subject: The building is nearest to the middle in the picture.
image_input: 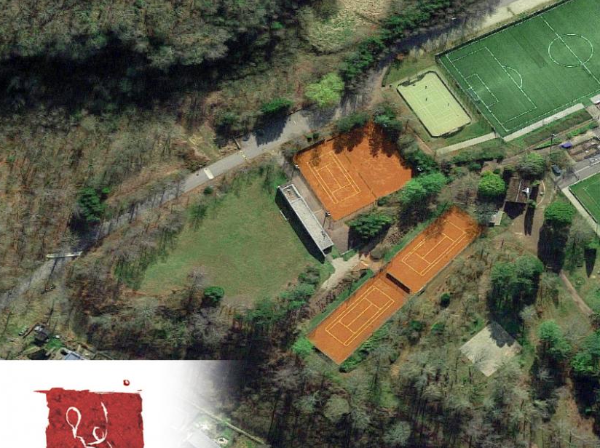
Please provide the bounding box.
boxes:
[280,183,336,257]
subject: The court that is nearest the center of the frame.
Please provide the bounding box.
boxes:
[294,143,371,221]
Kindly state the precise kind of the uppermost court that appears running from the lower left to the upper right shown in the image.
tennis court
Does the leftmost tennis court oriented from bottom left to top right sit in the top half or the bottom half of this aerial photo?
bottom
